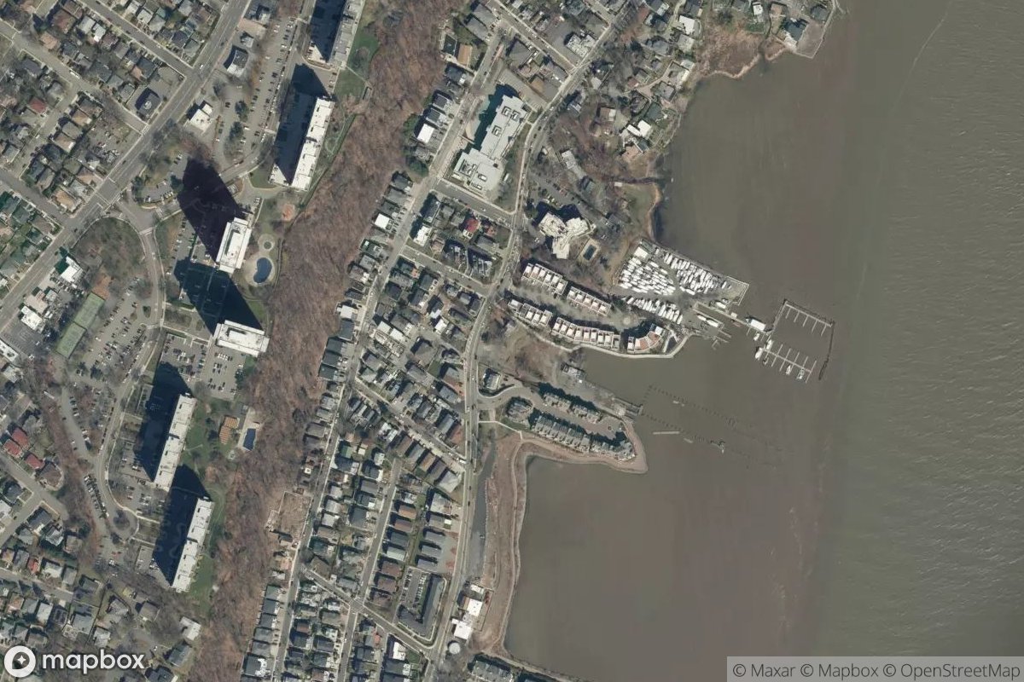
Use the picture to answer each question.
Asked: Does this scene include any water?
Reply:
Yes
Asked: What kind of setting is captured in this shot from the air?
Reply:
residential area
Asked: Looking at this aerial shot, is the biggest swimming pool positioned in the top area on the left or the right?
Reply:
left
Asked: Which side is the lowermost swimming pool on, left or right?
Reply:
left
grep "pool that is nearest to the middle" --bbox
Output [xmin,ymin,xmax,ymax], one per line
[578,240,600,265]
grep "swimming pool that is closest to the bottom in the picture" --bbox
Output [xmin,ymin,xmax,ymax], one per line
[237,408,263,452]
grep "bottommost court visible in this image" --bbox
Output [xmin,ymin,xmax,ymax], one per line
[57,323,85,357]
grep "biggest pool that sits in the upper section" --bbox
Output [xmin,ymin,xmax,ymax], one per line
[245,251,275,286]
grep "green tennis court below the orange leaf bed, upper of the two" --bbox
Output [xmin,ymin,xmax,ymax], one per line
[74,293,105,330]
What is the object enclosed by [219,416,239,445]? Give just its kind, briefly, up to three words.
building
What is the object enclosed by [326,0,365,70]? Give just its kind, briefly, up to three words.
building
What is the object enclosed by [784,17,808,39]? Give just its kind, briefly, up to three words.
house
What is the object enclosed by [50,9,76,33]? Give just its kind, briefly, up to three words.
house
